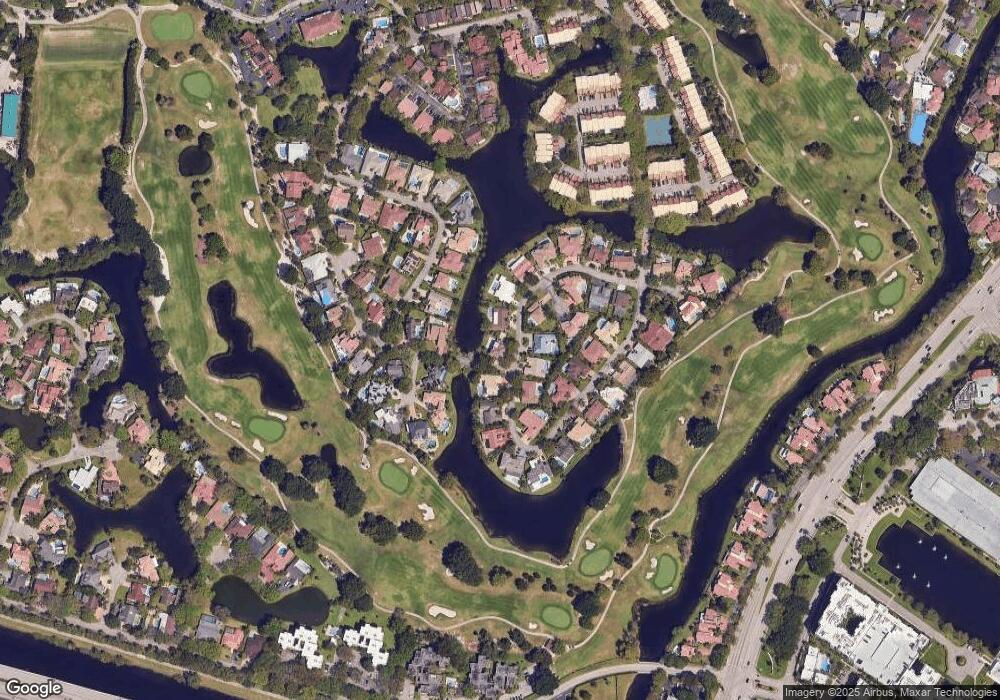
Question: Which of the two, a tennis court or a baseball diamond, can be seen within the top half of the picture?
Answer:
tennis court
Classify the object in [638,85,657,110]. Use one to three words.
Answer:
swimming pool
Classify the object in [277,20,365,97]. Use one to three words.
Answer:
pond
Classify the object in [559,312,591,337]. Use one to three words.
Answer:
house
